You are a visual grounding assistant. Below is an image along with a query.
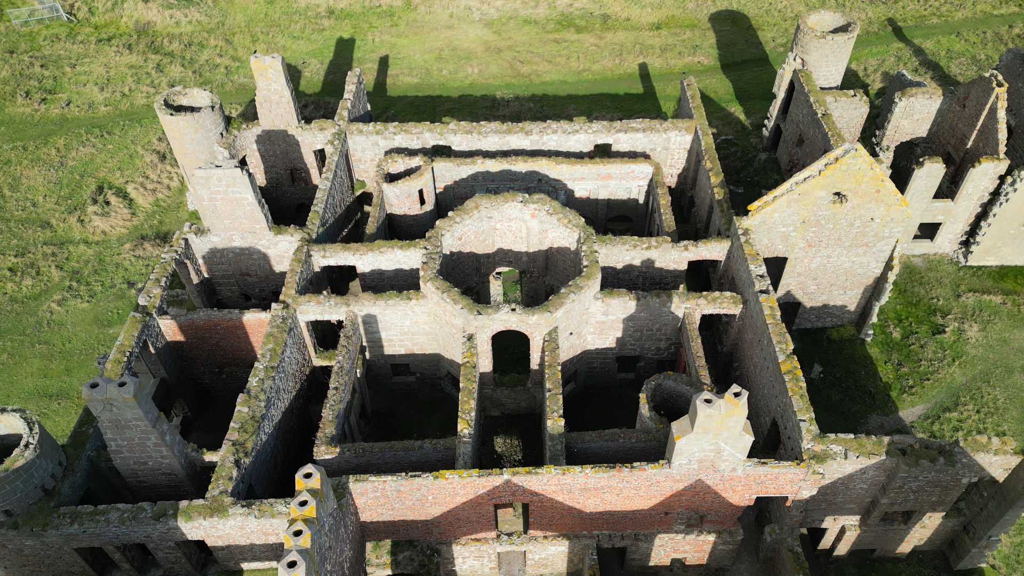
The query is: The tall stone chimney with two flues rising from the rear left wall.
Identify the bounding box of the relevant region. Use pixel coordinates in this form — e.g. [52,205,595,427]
[254,50,304,134]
